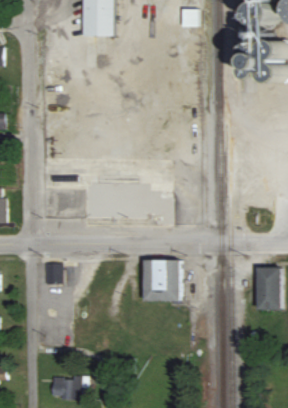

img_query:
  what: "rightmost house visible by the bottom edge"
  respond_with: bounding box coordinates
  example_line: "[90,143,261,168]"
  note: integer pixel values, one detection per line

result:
[53,376,94,400]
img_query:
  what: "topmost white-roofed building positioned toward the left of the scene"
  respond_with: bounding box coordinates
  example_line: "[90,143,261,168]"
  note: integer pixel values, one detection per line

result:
[83,0,118,36]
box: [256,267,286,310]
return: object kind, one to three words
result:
building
